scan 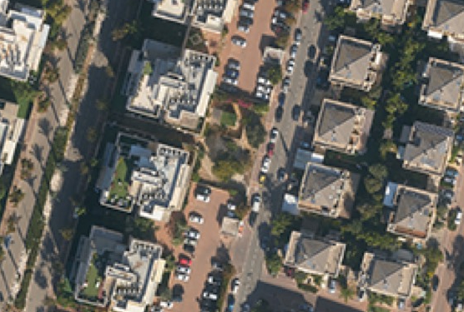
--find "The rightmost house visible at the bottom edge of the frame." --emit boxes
[357,252,425,304]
